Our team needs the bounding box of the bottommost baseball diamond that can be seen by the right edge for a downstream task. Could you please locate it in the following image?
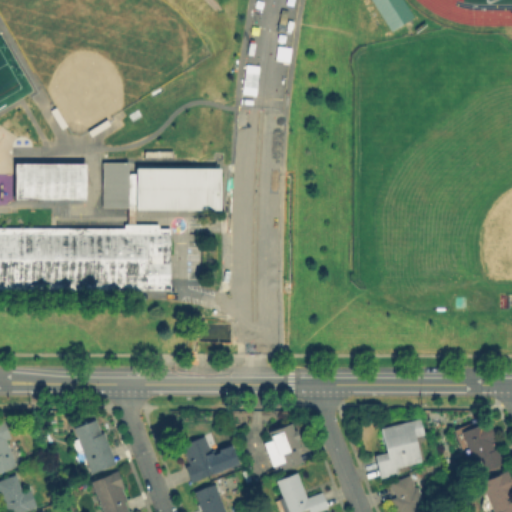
[351,28,512,310]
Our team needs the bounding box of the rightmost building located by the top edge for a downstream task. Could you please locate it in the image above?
[375,0,415,31]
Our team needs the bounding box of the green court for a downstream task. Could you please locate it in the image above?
[0,35,33,110]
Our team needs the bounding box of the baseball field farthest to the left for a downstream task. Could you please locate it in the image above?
[0,0,210,134]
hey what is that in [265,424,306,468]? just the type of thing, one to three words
house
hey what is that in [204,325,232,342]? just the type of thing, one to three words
building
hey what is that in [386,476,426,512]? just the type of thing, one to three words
house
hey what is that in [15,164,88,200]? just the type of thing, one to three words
building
